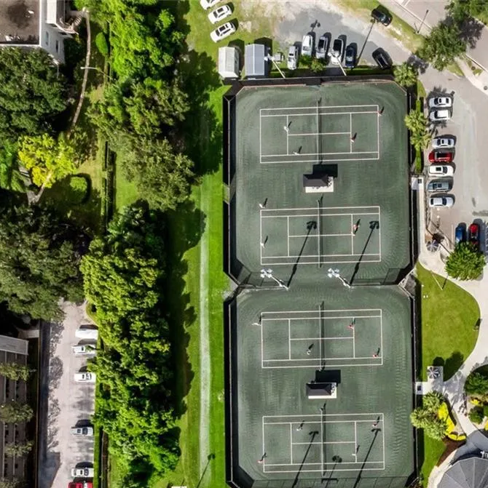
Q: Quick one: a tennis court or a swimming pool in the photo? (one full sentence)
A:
It is a tennis court that can be seen here.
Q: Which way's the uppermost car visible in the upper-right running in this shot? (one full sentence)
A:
From this overhead view, the uppermost car visible in the upper-right appears to run diagonally.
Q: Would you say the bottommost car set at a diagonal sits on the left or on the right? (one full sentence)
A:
You can find the bottommost car set at a diagonal on the right side of the picture.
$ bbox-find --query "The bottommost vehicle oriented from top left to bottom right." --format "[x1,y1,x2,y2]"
[372,46,392,71]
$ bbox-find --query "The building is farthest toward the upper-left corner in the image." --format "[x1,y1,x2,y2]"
[0,0,75,63]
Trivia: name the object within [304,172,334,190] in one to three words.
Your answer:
building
